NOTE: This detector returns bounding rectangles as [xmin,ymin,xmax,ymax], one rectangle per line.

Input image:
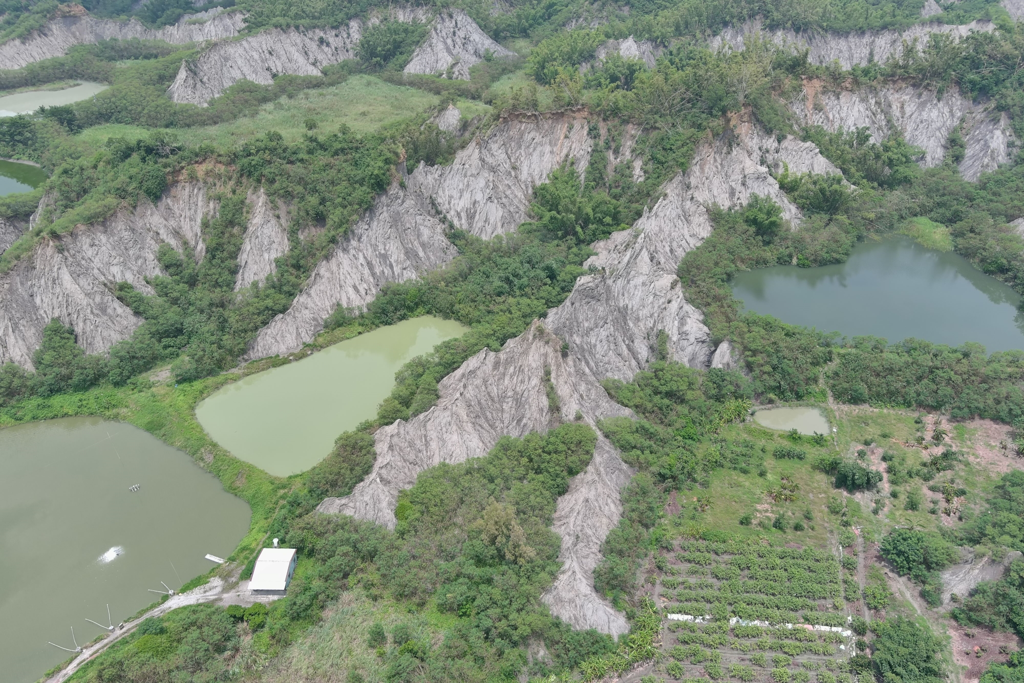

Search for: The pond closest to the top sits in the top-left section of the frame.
[0,82,109,118]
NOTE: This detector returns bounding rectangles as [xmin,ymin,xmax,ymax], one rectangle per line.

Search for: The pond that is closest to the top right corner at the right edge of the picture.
[731,233,1024,363]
